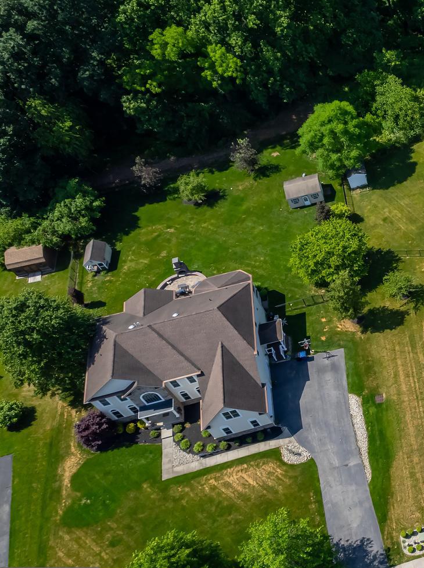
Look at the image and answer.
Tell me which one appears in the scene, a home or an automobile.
home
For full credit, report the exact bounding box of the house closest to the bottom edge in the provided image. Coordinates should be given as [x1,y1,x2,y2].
[84,269,289,439]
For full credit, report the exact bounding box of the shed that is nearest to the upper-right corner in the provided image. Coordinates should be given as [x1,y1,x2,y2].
[343,160,371,190]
